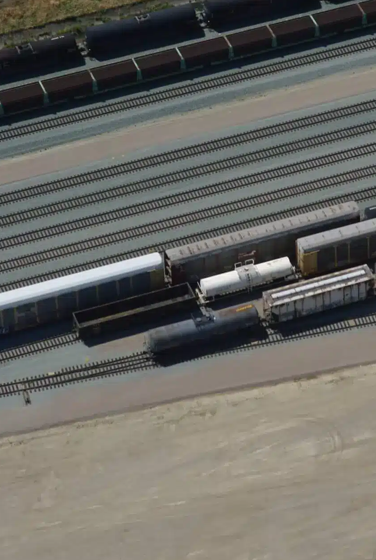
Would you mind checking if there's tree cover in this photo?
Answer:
No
